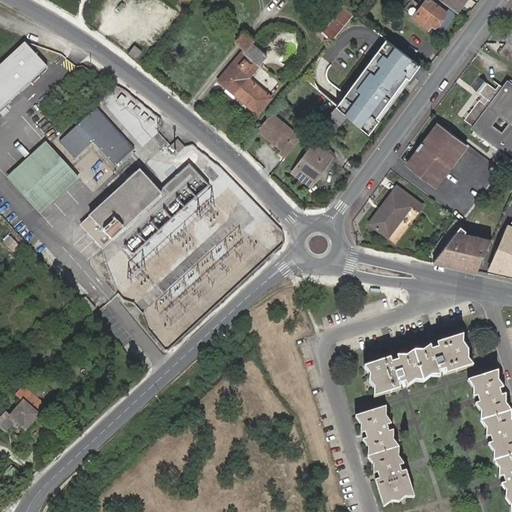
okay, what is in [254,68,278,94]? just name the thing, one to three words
shed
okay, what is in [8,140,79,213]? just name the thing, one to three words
building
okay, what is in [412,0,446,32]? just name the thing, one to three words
house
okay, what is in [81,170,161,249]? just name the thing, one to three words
building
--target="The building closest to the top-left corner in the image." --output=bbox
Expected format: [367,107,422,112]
[0,41,48,116]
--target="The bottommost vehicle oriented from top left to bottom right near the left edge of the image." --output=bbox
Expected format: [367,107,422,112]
[13,139,29,156]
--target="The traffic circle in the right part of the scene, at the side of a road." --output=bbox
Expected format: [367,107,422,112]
[277,205,362,279]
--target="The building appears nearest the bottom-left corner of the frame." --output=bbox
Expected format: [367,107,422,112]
[0,388,41,432]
